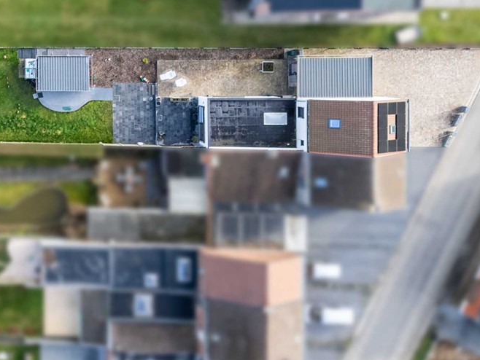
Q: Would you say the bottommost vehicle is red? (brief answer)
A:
No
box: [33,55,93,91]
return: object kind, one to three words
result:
shed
